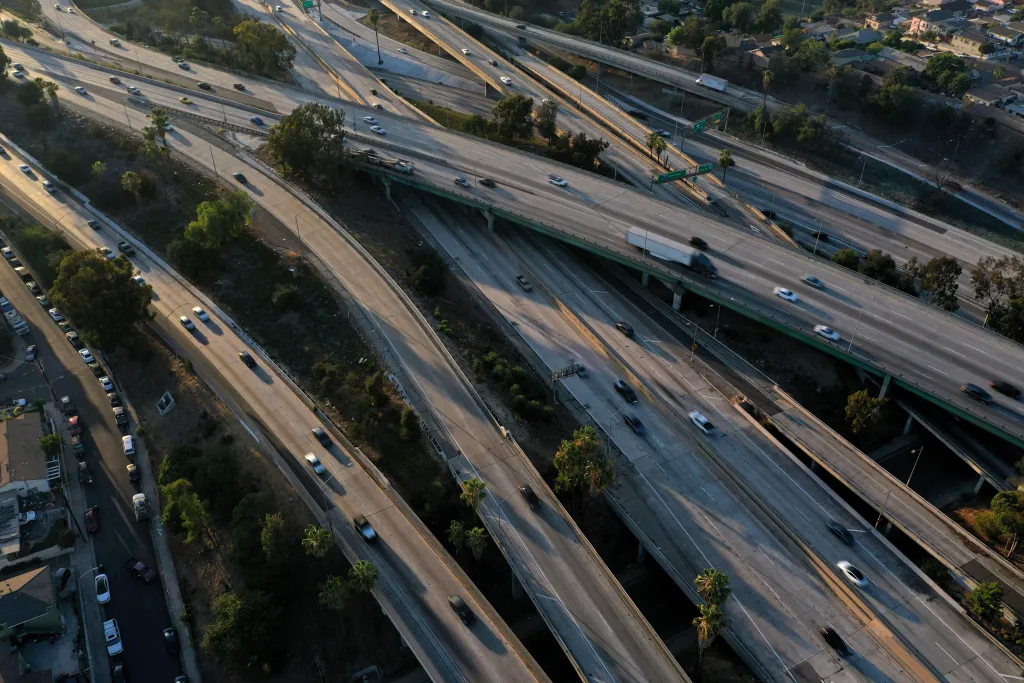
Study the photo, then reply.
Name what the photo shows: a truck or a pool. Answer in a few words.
truck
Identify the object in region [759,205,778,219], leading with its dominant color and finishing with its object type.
black car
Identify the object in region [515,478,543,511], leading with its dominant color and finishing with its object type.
black car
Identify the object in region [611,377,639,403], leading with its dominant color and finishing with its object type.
black truck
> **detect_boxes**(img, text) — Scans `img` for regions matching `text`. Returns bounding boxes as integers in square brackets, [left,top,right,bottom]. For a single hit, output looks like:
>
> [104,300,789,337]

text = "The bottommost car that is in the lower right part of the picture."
[814,619,857,663]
